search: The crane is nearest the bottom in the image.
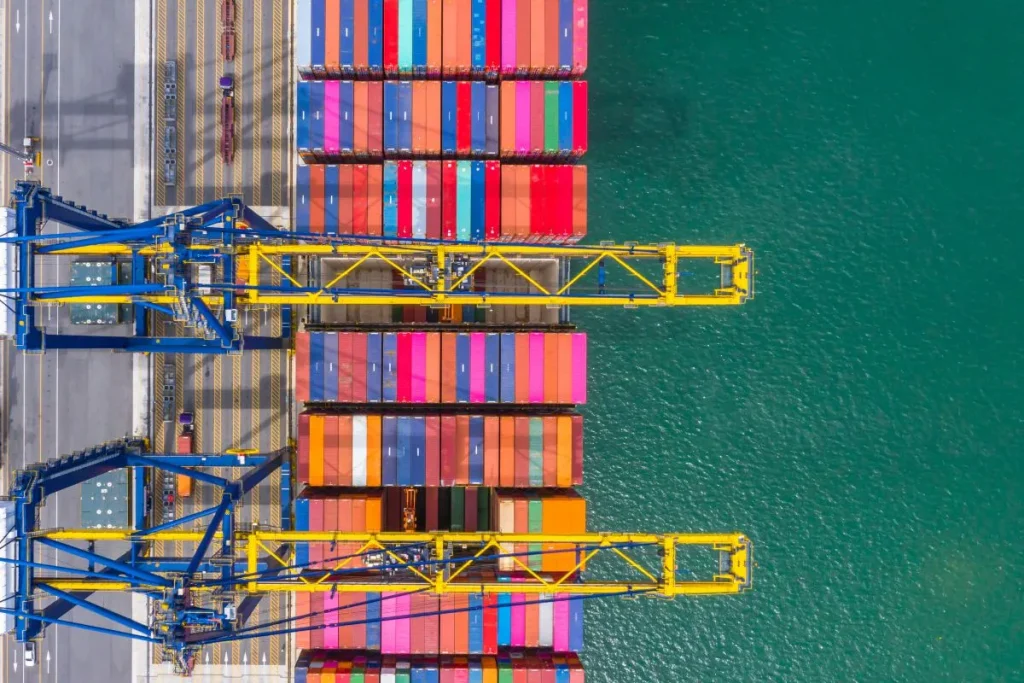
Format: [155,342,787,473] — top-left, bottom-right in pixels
[0,427,758,682]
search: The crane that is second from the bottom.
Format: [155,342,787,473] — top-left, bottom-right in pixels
[0,180,759,369]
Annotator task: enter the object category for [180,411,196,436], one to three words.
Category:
vehicle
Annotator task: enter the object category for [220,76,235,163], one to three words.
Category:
vehicle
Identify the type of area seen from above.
port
